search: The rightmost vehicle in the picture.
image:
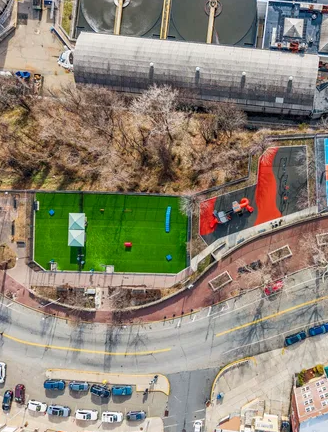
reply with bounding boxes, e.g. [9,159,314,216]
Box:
[308,323,328,337]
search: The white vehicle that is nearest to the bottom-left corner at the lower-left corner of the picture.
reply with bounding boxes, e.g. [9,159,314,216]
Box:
[27,399,49,413]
